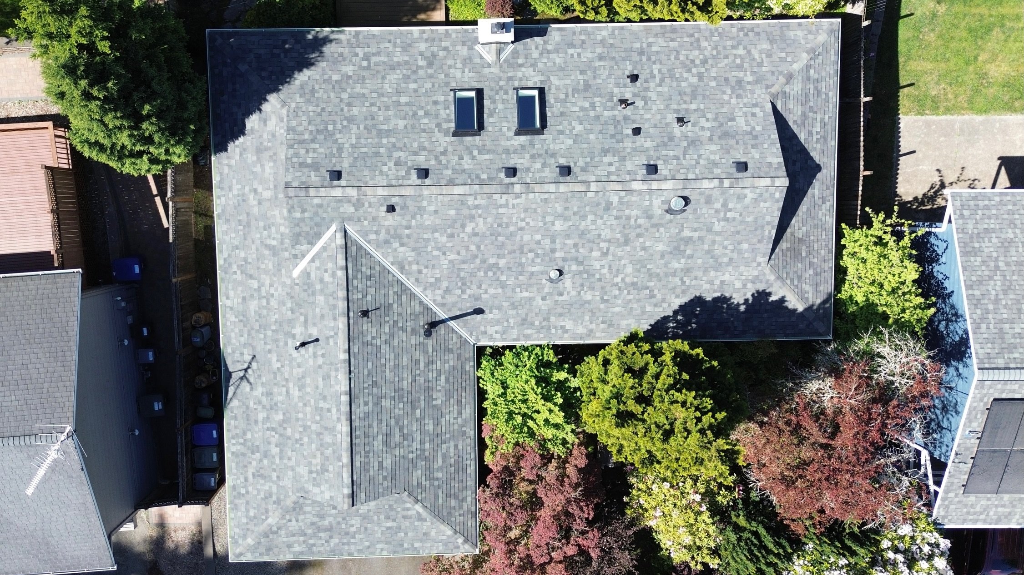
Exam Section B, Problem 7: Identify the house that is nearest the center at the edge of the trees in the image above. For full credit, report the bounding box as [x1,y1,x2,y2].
[206,18,841,562]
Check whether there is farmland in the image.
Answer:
No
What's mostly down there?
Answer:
buildings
